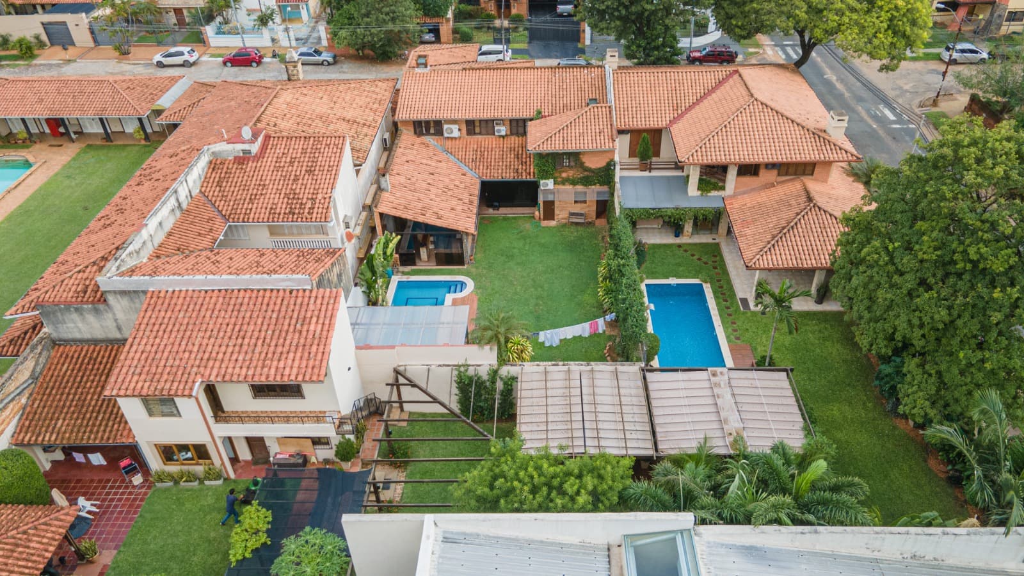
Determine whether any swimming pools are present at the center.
Yes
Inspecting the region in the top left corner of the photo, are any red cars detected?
Yes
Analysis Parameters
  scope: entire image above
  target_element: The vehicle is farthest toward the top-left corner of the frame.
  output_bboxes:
[153,46,201,67]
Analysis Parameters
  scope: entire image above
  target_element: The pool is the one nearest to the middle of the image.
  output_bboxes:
[383,275,478,337]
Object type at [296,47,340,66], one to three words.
car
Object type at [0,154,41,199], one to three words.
swimming pool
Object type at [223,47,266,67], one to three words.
car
